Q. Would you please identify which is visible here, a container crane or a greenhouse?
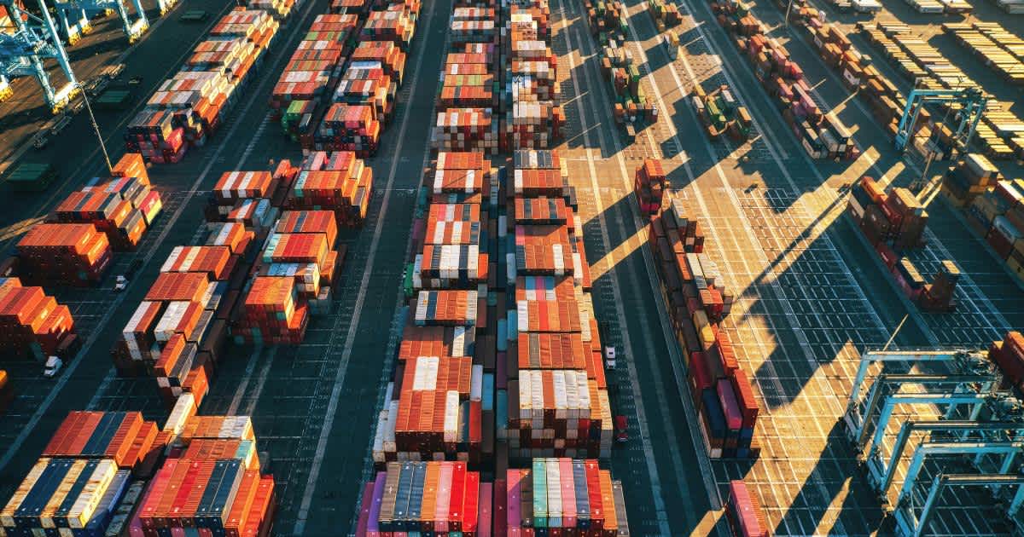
container crane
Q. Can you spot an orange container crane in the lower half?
No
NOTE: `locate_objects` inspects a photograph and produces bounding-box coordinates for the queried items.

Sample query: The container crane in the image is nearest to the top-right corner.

[896,84,997,155]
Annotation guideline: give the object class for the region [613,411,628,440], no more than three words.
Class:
vehicle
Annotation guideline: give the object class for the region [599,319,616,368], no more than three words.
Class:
vehicle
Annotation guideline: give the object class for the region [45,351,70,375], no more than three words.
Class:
truck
